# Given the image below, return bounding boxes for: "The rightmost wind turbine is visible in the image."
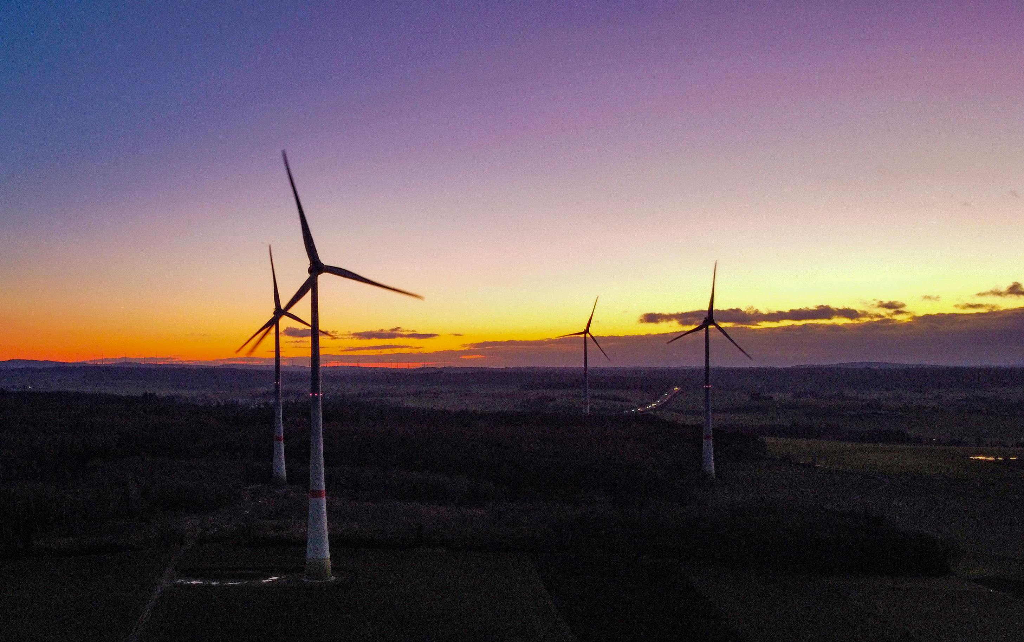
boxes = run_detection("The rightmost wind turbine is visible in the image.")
[664,261,753,479]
